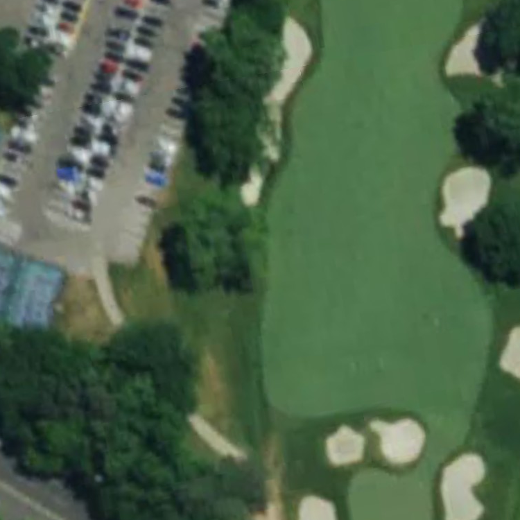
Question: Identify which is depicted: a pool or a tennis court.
tennis court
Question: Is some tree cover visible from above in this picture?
Yes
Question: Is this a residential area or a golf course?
golf course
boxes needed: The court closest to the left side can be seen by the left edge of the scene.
[0,248,20,313]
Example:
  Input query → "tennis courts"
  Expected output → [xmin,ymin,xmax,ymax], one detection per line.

[0,248,20,313]
[0,256,62,332]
